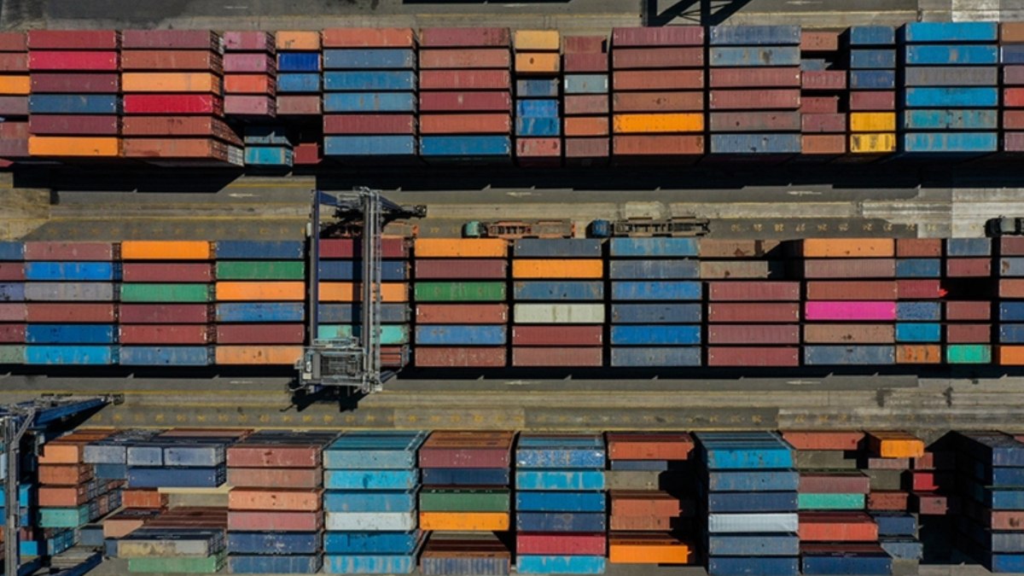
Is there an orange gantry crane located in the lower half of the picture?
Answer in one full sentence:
No, looking in the lower half of the picture, there is no orange gantry crane.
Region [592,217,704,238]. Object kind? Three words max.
truck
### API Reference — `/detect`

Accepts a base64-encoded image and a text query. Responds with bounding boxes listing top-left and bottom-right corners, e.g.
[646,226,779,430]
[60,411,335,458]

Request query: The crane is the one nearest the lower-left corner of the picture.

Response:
[0,392,121,576]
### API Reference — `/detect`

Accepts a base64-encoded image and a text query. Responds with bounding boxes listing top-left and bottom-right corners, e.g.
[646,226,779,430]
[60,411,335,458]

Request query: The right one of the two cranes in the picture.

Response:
[294,183,430,396]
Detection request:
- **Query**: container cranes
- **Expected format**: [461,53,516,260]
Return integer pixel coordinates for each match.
[294,183,430,396]
[0,392,121,576]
